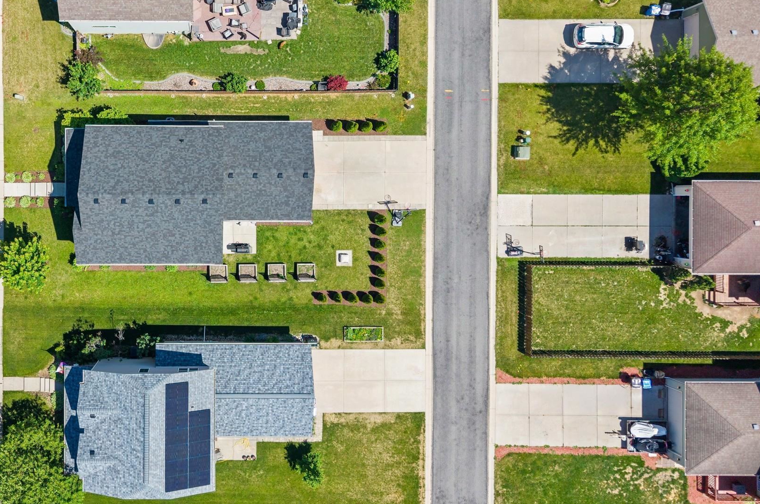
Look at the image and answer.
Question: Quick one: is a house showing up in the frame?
Yes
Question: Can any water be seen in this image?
No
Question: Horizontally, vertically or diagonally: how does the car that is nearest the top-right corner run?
horizontally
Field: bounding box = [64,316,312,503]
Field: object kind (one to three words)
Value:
house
